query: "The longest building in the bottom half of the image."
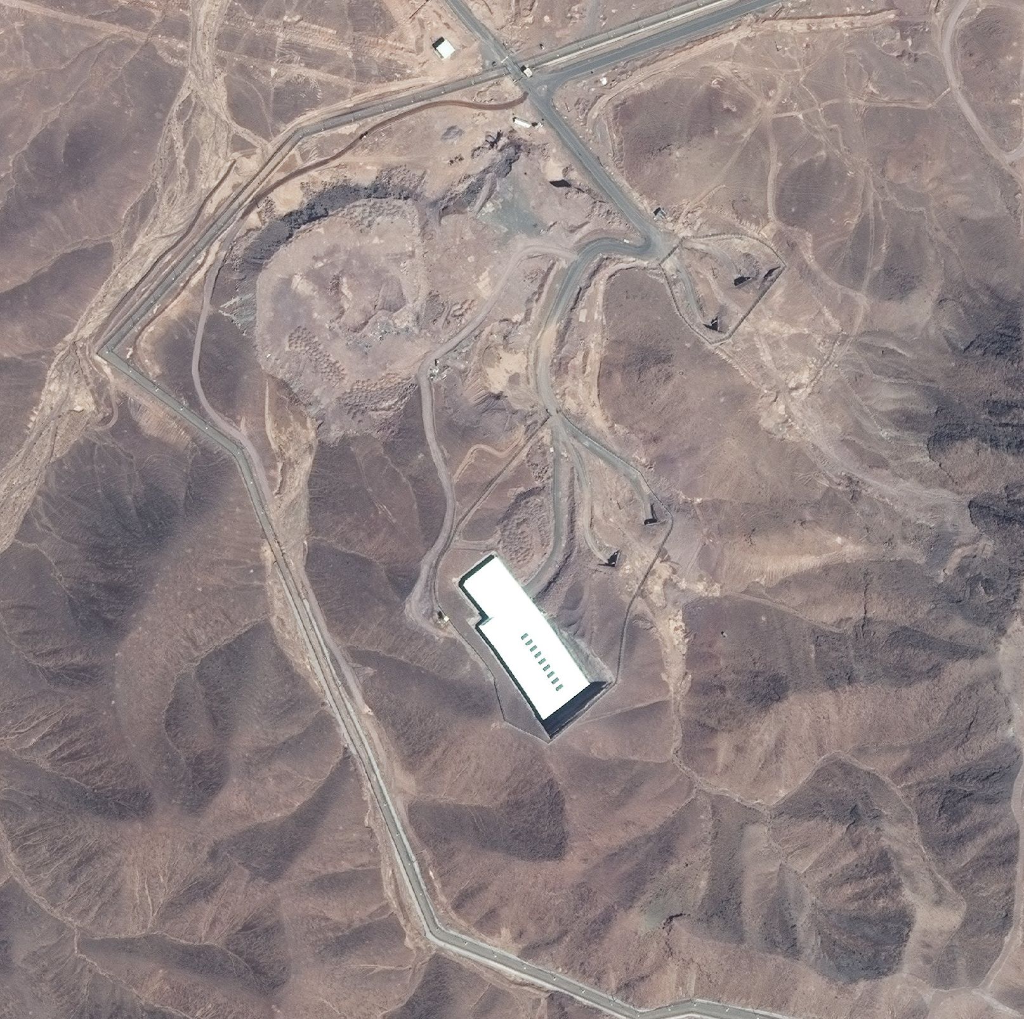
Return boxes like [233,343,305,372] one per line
[463,557,592,720]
